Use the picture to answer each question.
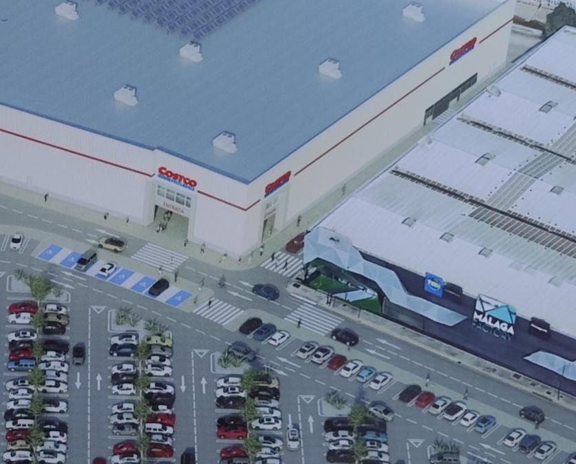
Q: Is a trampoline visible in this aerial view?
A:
No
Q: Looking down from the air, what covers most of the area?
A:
buildings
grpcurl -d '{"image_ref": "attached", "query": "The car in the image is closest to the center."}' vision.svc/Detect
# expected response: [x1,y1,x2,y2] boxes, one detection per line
[286,233,304,253]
